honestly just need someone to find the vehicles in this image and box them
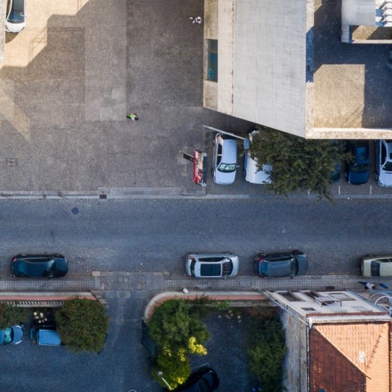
[359,252,392,277]
[6,0,31,33]
[373,139,392,187]
[252,249,308,279]
[10,253,68,282]
[174,361,222,392]
[30,322,77,352]
[183,251,240,281]
[0,323,28,351]
[345,139,374,186]
[211,131,242,186]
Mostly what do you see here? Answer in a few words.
paved ground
